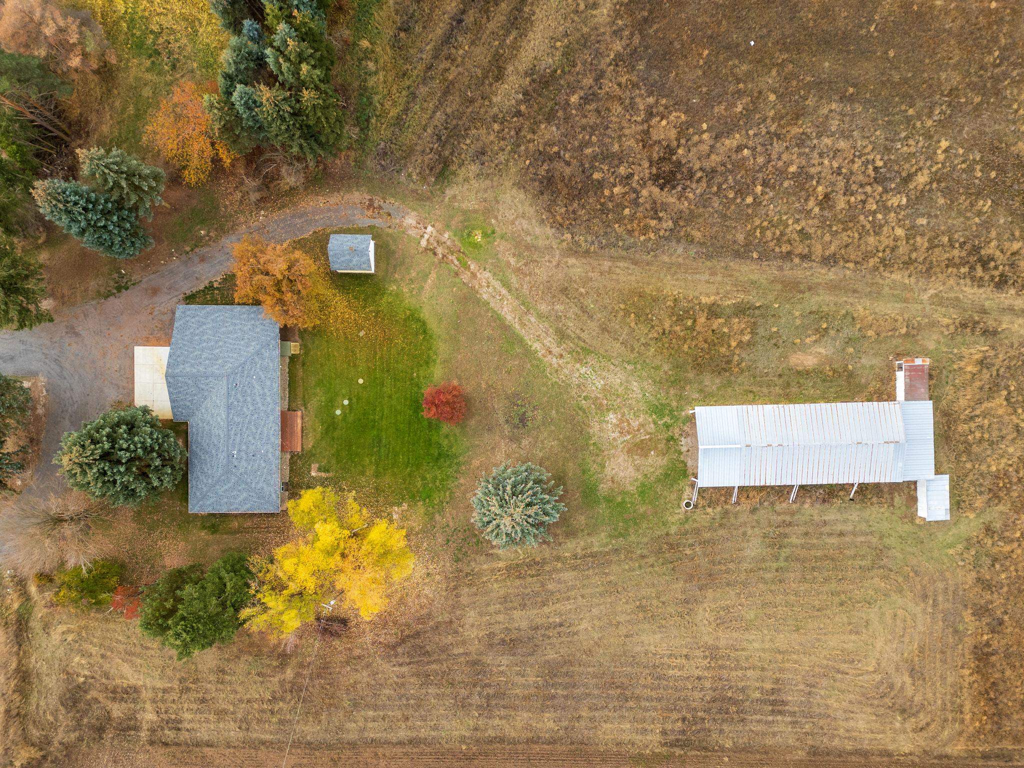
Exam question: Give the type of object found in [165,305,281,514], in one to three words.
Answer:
house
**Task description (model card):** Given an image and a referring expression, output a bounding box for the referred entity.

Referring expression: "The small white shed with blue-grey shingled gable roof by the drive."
[328,235,376,273]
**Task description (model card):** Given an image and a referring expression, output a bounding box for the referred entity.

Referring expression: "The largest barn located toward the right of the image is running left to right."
[688,402,910,503]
